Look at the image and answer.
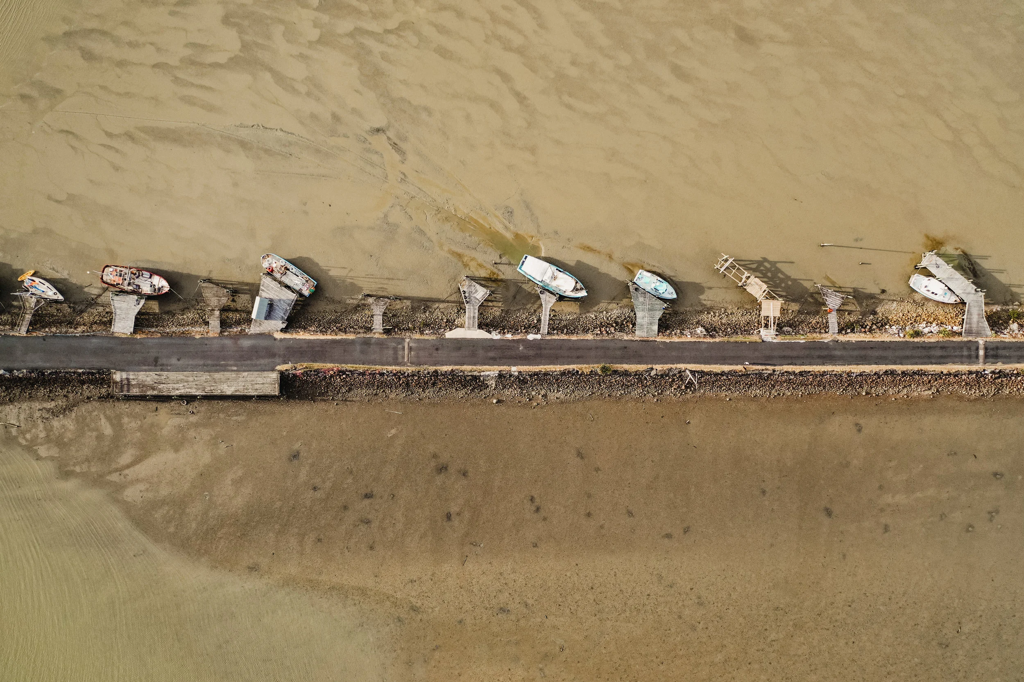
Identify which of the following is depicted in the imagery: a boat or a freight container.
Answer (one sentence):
I can see a boat in this picture.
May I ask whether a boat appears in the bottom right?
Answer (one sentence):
No, there is no boat in the bottom right.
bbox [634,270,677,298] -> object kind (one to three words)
boat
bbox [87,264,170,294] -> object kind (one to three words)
boat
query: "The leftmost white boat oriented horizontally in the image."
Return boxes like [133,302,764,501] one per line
[9,278,65,301]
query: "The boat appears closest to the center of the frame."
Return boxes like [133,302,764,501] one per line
[516,253,588,299]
